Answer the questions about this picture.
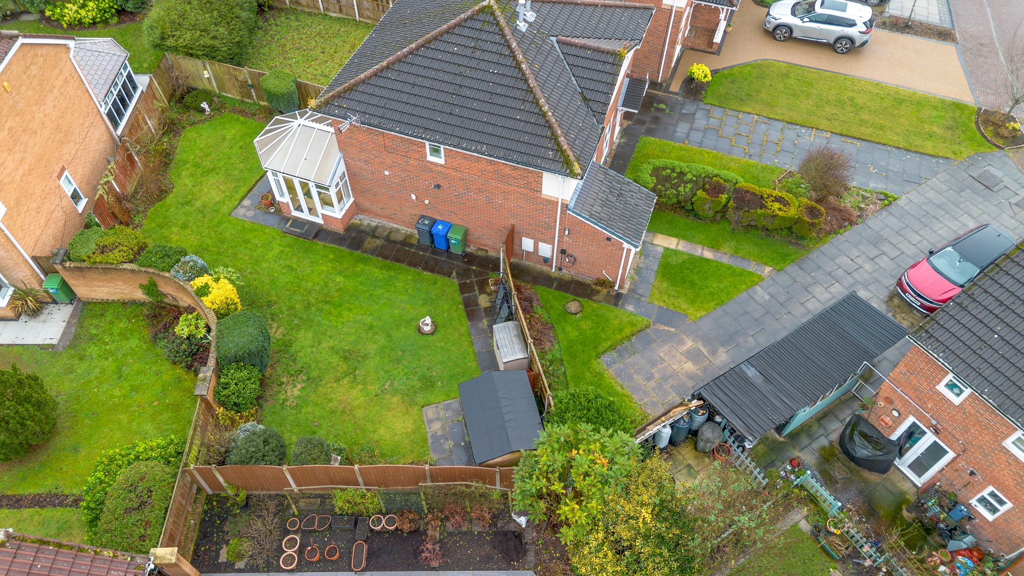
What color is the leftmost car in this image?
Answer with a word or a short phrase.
white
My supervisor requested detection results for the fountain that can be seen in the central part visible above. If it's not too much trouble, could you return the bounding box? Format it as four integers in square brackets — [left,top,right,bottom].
[417,313,433,333]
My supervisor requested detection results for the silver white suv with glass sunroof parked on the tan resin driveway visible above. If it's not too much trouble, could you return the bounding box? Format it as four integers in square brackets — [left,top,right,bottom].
[763,0,879,54]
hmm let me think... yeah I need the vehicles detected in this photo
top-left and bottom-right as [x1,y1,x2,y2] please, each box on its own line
[763,0,879,54]
[869,0,899,7]
[895,220,1019,315]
